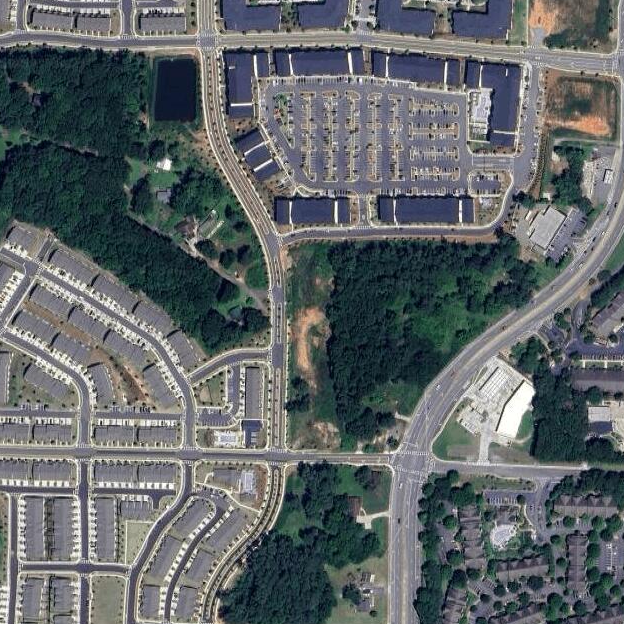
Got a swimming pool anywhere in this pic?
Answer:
Yes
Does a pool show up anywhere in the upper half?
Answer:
No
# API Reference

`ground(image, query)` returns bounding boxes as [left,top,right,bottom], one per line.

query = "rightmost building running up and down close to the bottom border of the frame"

[566,533,590,594]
